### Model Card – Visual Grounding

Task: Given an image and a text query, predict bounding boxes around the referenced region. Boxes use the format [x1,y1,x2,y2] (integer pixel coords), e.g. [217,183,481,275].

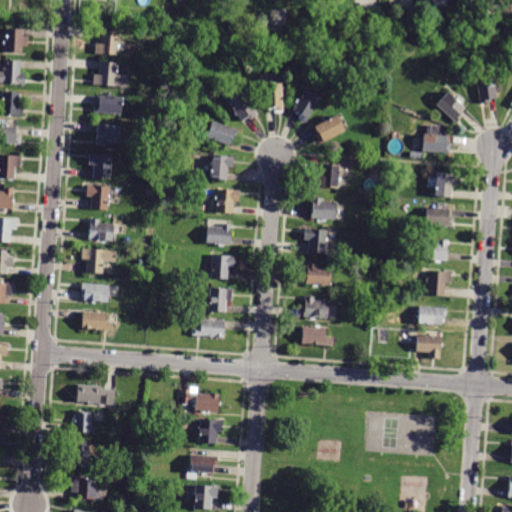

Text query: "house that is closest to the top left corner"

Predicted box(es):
[2,28,28,53]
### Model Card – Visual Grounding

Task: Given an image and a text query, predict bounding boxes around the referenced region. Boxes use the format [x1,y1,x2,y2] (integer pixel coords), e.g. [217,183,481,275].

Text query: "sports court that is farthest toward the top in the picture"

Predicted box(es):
[365,411,436,456]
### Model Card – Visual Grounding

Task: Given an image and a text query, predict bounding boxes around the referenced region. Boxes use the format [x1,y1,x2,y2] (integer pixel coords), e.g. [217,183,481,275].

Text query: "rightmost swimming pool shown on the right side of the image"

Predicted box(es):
[388,138,404,154]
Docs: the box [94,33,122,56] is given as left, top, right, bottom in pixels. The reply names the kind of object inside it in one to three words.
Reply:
house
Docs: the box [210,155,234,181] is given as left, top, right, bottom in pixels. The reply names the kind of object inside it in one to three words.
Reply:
house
